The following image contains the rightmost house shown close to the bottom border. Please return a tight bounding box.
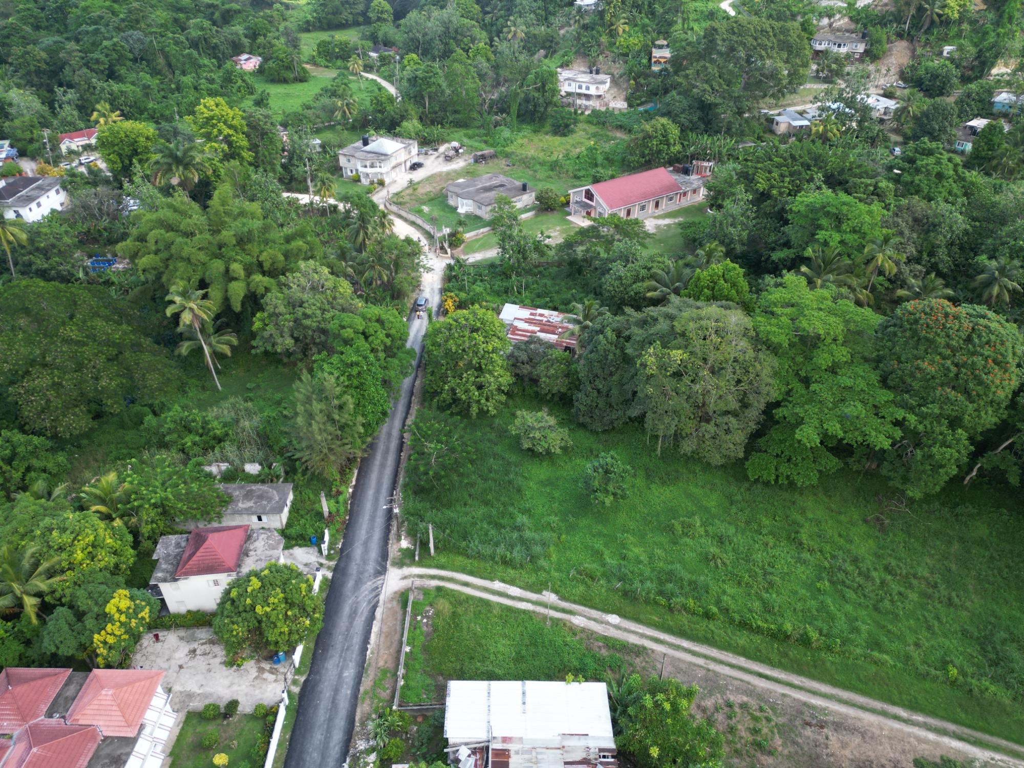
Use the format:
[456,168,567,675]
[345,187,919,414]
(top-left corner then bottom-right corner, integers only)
[441,677,619,768]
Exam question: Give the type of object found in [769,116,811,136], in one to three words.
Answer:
building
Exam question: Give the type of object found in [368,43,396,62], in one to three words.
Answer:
house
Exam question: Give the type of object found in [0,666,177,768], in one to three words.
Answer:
house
